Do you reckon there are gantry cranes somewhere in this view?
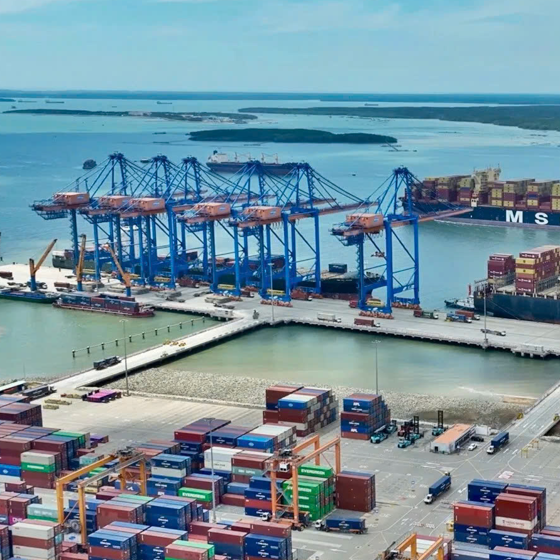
Yes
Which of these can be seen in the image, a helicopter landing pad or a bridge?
bridge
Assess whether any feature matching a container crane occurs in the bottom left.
Yes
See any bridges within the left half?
Yes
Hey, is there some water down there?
Yes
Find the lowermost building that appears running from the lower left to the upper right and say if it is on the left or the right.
right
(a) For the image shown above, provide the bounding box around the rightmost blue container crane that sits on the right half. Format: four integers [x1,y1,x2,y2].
[334,165,475,318]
